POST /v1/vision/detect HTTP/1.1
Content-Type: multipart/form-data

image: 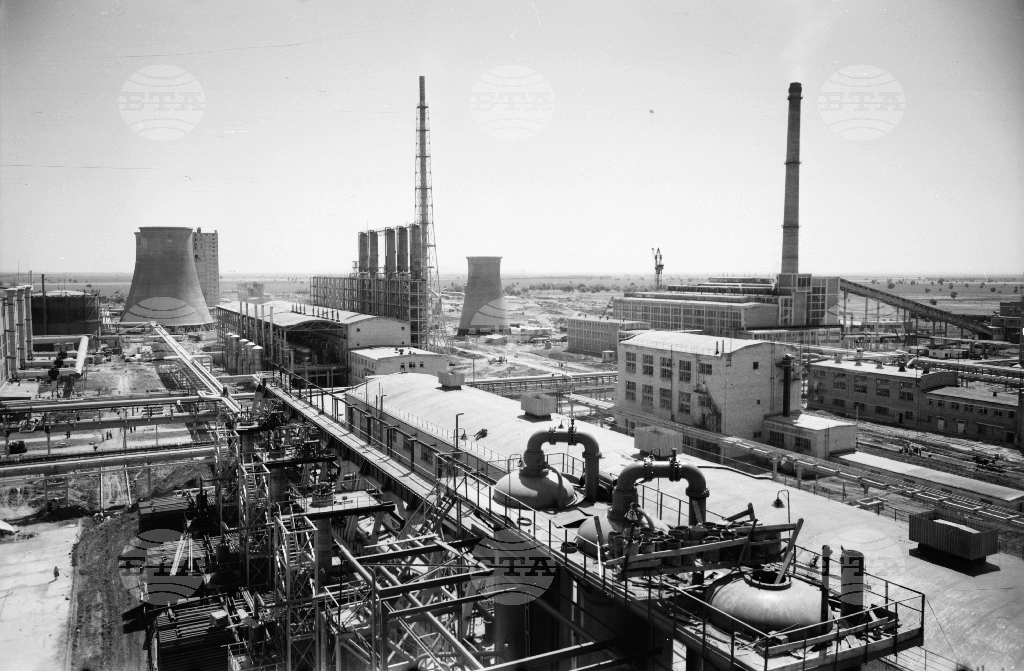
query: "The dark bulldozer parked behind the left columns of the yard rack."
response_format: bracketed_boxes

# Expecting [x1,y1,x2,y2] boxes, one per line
[8,437,30,453]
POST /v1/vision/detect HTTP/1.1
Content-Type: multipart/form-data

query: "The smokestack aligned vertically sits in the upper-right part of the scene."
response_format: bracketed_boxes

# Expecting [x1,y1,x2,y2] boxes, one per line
[777,81,801,273]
